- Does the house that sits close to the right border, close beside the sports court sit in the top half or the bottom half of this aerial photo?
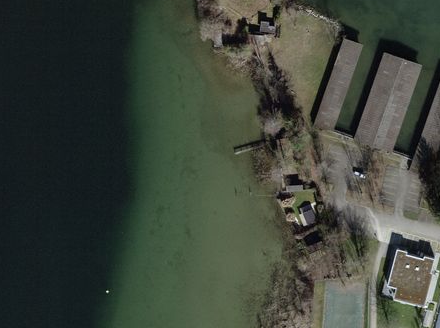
bottom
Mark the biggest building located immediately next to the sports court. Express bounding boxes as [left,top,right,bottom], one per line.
[389,250,436,308]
